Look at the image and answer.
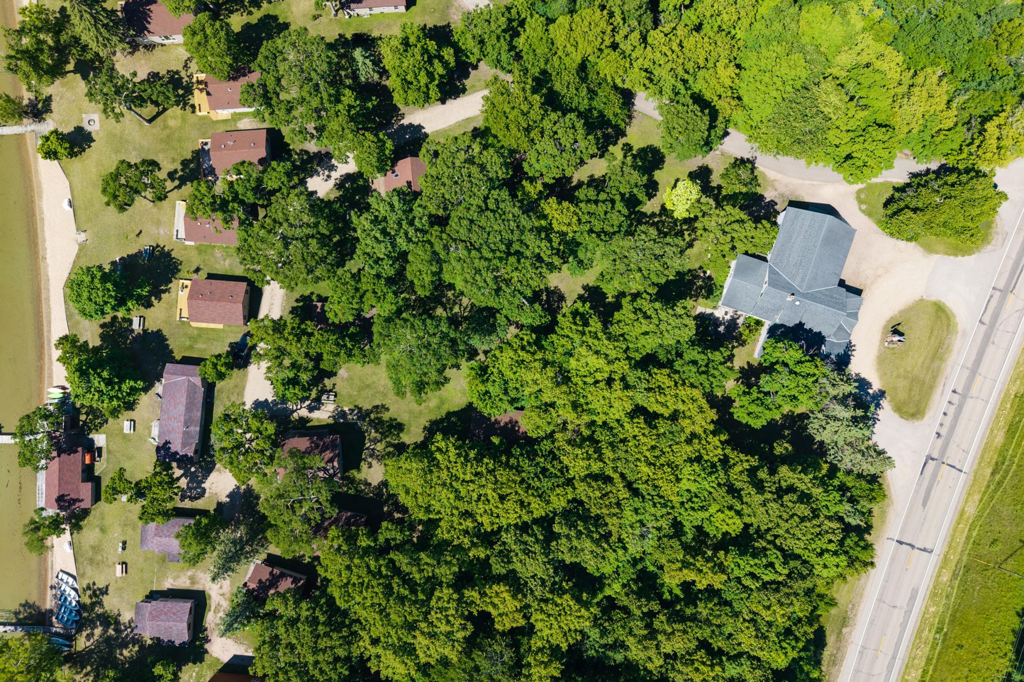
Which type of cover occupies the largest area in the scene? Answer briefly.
trees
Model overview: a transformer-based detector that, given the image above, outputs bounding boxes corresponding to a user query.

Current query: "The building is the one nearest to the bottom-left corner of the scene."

[134,597,196,647]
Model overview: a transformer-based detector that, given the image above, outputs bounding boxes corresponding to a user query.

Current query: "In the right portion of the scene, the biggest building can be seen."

[719,203,863,369]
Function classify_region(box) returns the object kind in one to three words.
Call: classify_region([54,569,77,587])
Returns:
boat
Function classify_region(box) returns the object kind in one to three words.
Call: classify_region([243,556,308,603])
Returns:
building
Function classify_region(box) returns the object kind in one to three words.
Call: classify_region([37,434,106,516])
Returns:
building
